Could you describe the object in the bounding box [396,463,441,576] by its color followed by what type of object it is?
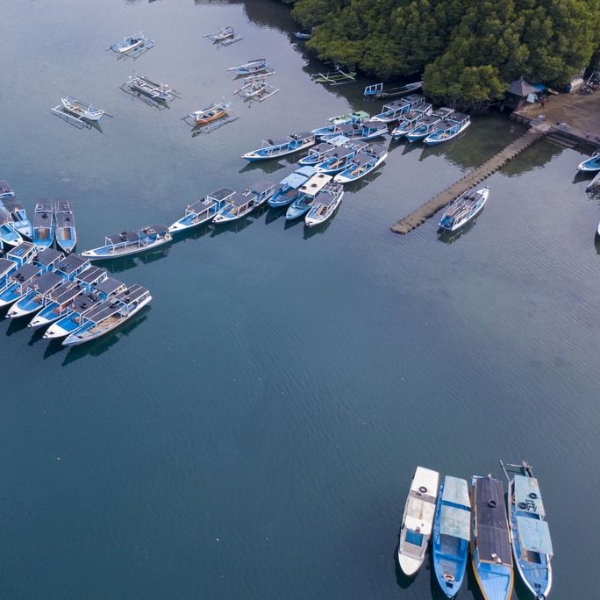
white boat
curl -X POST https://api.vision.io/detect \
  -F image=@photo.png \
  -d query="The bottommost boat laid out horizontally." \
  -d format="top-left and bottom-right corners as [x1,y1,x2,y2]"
[78,223,171,262]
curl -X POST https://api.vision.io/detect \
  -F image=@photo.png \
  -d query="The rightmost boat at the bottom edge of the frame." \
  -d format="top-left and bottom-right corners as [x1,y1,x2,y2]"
[503,474,556,598]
